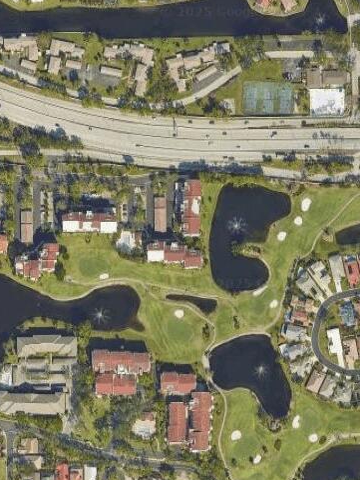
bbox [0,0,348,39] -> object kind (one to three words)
pond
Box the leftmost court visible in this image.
[244,82,260,114]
